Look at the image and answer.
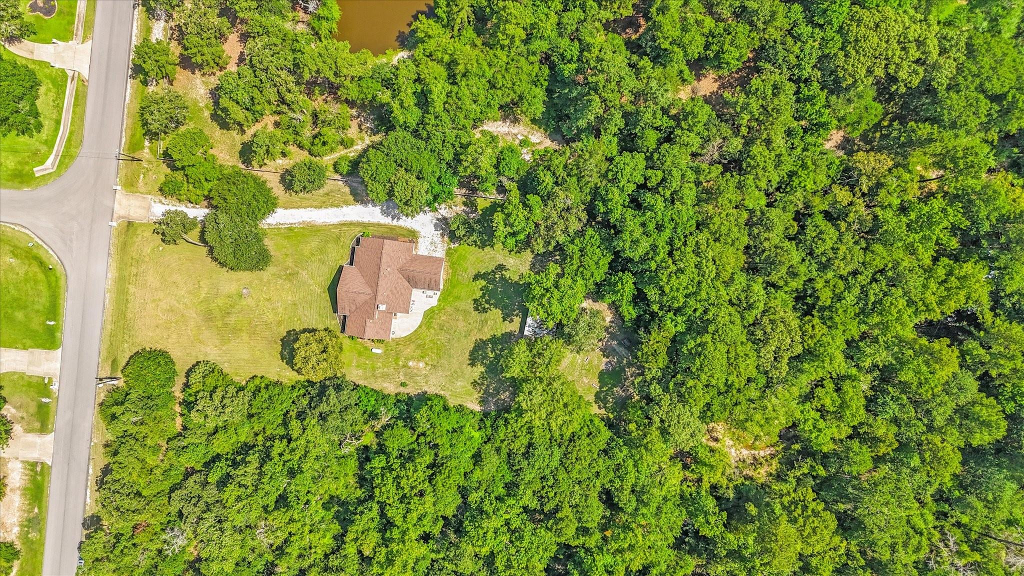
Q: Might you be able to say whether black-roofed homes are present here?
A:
No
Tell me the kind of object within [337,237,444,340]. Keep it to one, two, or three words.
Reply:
house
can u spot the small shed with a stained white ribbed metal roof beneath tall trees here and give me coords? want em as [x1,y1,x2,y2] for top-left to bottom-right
[527,313,556,341]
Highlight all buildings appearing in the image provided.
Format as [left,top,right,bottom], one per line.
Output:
[527,313,556,341]
[337,237,444,340]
